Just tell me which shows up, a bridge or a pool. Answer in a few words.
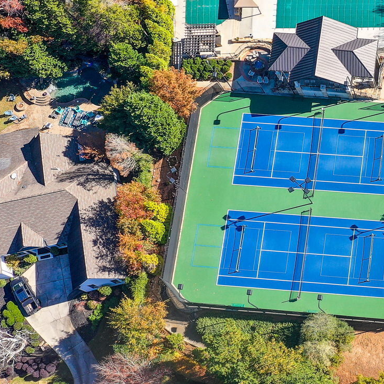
pool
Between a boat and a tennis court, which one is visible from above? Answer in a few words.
tennis court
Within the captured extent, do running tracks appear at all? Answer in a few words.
No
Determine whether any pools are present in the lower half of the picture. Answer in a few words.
No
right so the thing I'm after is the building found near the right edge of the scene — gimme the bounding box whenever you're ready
[265,16,378,99]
